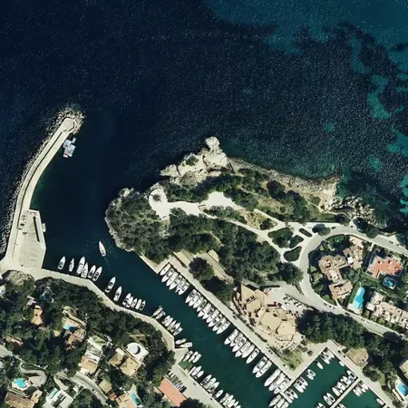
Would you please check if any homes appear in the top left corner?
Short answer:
No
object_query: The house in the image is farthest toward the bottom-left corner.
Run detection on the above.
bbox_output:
[3,376,42,408]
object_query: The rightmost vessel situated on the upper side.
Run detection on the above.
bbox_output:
[62,138,79,157]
